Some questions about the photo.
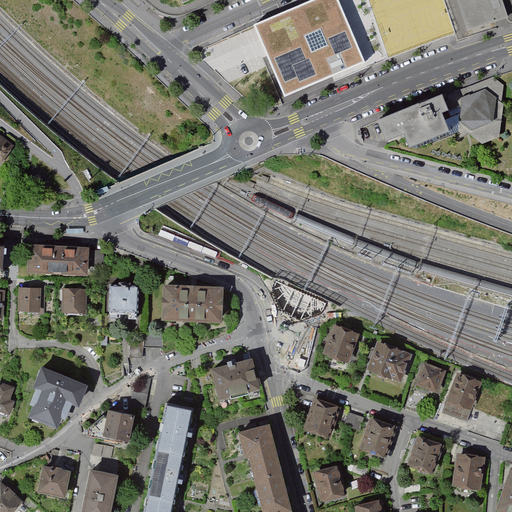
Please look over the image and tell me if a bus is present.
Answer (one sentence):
Yes, there's a bus here.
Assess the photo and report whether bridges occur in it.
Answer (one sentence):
Yes, the frame does contain a bridge.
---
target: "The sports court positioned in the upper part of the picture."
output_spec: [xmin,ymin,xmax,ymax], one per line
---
[370,0,454,58]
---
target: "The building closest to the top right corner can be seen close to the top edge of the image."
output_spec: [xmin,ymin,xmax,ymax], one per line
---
[448,0,508,36]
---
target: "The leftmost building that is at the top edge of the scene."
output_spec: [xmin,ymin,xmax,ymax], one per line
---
[256,0,372,96]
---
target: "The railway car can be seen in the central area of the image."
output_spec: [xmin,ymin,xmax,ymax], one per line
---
[251,194,294,218]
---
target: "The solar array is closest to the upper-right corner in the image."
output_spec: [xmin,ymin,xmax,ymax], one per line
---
[329,32,352,53]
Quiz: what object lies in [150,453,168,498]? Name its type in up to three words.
solar array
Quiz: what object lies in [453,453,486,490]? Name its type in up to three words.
house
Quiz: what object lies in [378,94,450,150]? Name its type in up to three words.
building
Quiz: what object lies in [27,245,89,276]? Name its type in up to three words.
house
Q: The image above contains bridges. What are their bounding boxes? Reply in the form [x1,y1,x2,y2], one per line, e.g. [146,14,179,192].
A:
[98,128,256,222]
